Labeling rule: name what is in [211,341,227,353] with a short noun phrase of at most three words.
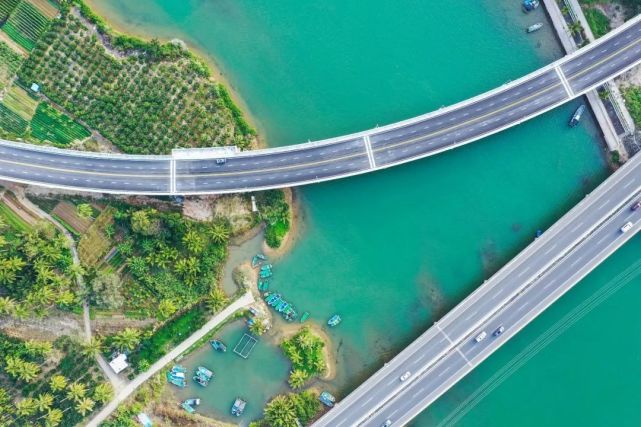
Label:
boat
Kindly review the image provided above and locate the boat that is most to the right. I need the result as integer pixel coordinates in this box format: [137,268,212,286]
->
[568,105,585,128]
